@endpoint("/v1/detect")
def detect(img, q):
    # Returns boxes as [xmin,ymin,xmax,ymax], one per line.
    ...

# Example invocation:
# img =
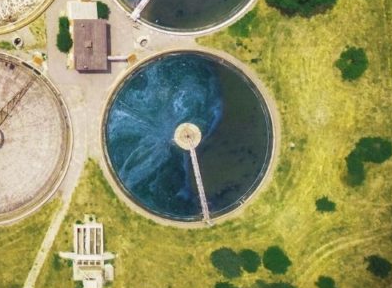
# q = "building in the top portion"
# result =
[65,1,128,71]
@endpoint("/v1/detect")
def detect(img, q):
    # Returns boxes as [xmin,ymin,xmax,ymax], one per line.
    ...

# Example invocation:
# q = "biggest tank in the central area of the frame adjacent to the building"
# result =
[100,46,280,226]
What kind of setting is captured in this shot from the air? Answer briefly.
industrial area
